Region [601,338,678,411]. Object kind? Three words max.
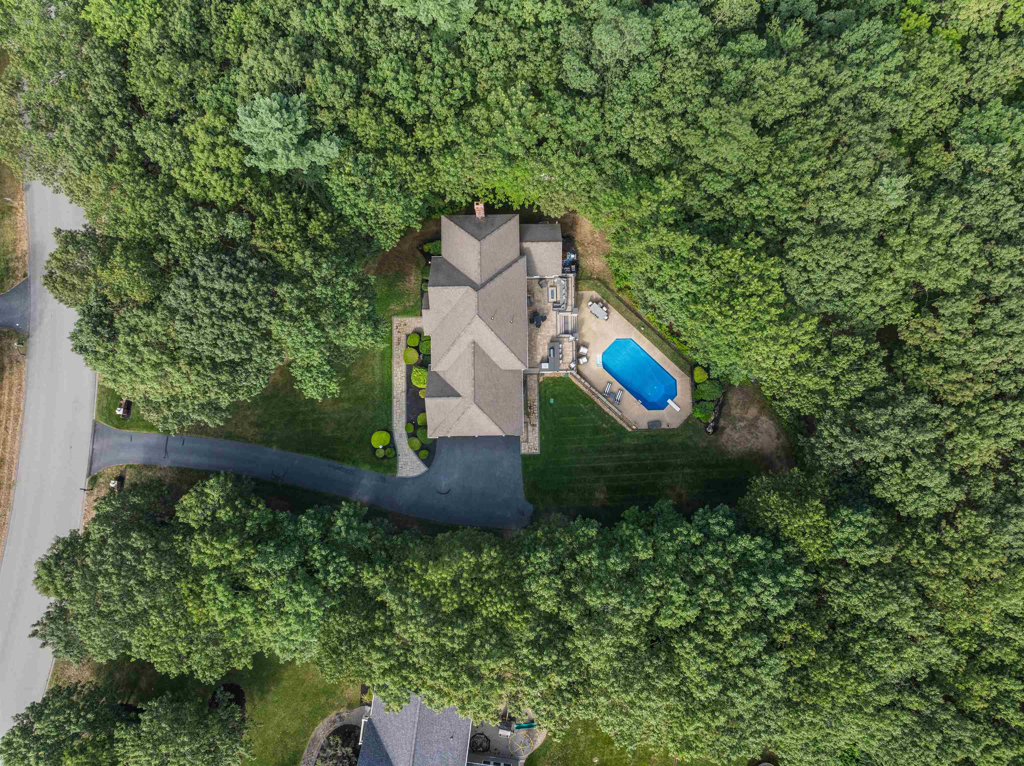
swimming pool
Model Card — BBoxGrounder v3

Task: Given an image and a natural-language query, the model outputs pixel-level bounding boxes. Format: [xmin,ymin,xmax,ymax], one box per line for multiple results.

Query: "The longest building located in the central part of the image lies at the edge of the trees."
[422,201,562,438]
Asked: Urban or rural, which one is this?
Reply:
rural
